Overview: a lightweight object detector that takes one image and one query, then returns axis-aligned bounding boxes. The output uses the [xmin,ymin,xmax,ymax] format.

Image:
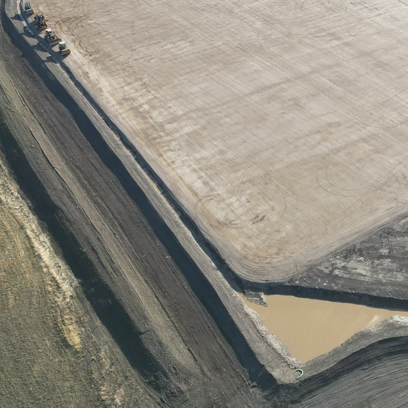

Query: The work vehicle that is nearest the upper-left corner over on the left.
[33,14,46,29]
